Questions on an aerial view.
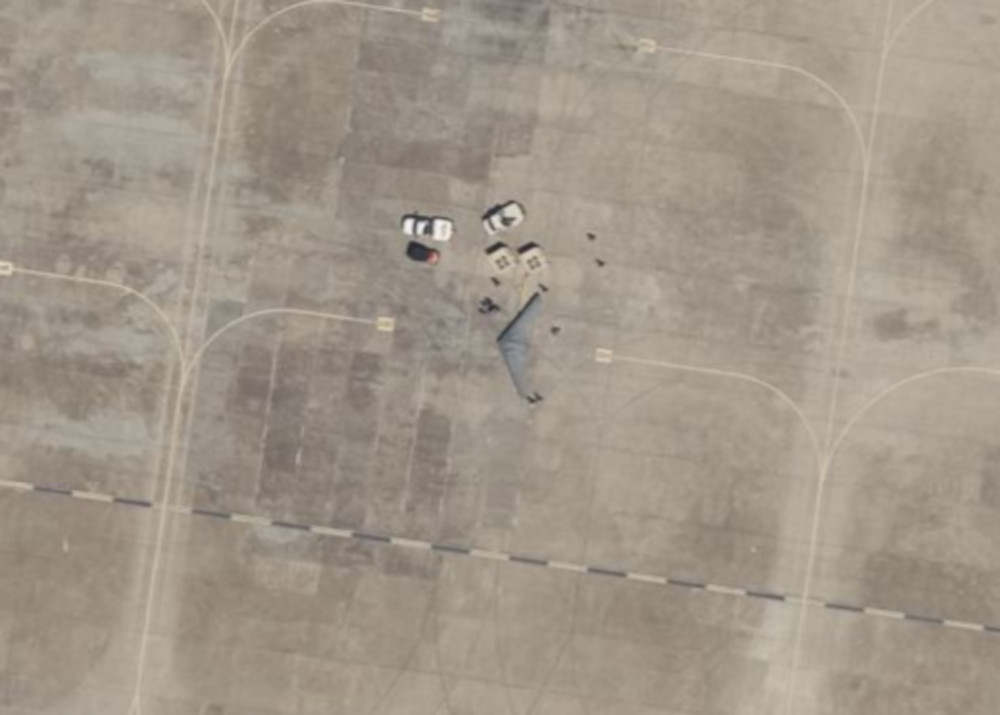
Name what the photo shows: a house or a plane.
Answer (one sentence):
Looking from above, you can make out a plane.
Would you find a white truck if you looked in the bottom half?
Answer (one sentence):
No, no white truck appears in the bottom half.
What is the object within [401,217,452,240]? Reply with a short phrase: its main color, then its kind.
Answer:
white truck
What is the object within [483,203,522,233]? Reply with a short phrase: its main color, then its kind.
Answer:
white truck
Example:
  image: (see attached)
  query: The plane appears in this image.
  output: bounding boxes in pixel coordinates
[498,293,545,400]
